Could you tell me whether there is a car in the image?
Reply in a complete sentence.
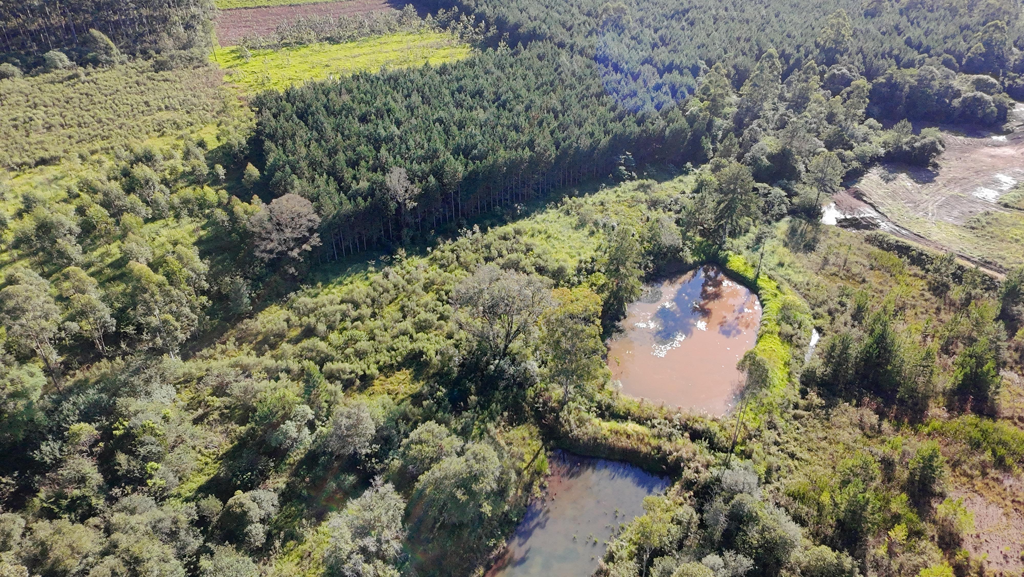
No, I can't see a single car in this photo.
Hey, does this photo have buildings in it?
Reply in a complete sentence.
No, the picture doesn't show any building.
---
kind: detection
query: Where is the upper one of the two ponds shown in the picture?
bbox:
[607,265,761,418]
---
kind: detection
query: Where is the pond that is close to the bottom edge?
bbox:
[486,451,673,577]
